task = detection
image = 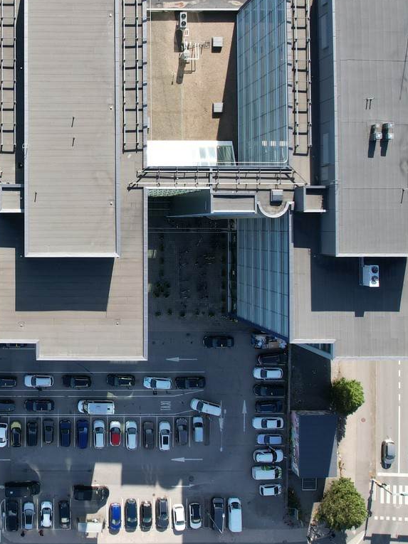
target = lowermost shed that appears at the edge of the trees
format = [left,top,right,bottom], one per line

[291,410,338,478]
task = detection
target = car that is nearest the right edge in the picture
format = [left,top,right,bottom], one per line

[379,437,396,467]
